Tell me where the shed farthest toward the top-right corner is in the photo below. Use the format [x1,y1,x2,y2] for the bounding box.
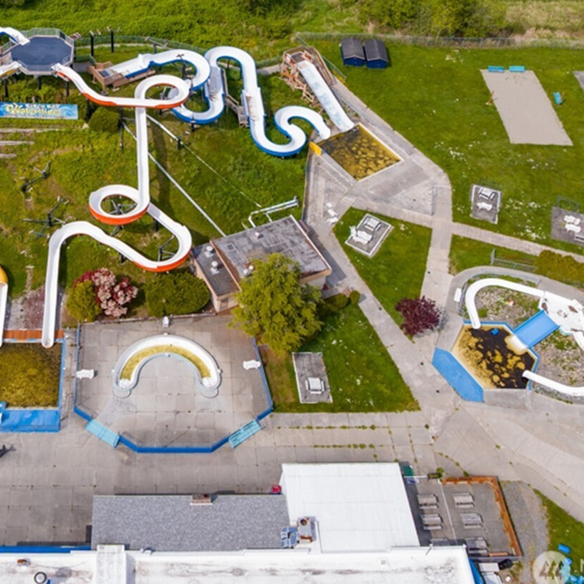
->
[365,37,389,70]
